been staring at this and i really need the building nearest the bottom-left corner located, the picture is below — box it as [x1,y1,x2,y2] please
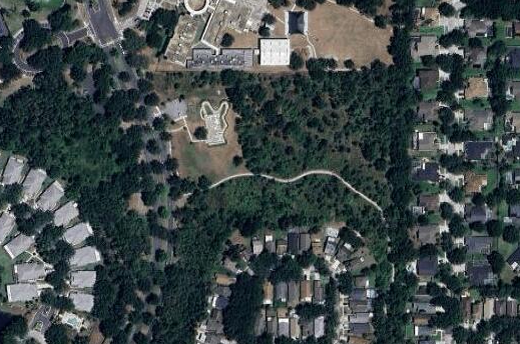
[7,281,41,301]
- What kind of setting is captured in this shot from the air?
residential area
